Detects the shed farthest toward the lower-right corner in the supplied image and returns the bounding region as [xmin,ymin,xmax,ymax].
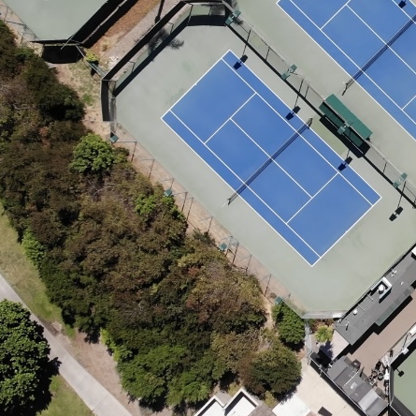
[358,384,389,416]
